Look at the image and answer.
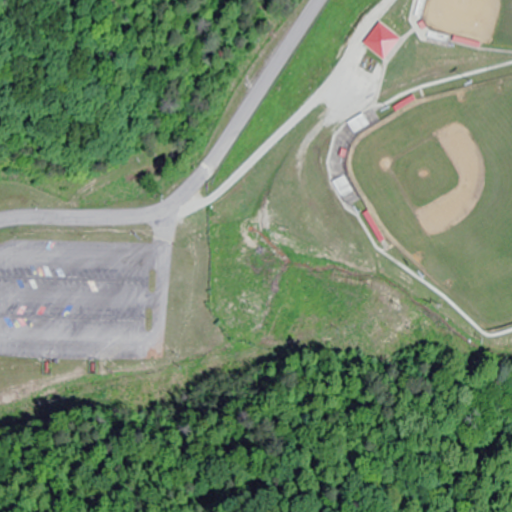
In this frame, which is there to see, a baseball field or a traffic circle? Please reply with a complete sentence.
Visible in the photo is a baseball field.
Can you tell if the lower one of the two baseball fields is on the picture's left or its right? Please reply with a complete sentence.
The lower one of the two baseball fields is on the right side of the image.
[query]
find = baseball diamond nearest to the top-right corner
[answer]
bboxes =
[423,0,512,48]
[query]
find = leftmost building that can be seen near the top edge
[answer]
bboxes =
[362,20,400,60]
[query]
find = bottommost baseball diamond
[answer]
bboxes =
[347,76,512,330]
